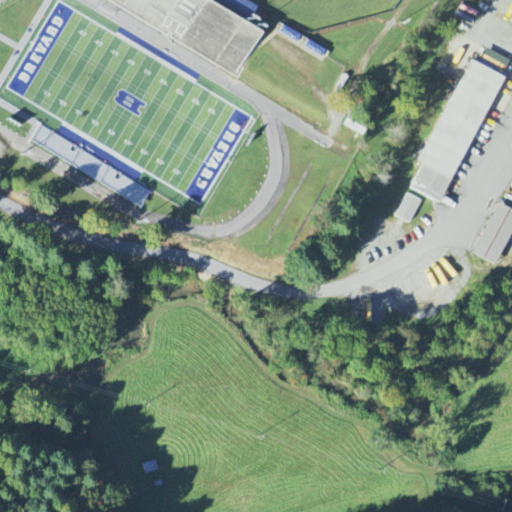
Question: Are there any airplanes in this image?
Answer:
No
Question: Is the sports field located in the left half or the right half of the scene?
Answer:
left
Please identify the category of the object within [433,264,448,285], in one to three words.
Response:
vehicle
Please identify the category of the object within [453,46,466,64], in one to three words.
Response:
vehicle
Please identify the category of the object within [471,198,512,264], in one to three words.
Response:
building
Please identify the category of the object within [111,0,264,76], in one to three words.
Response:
building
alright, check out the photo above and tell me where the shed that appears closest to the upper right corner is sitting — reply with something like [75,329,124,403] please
[482,42,512,72]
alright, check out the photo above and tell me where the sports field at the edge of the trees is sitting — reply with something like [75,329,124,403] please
[0,0,259,213]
